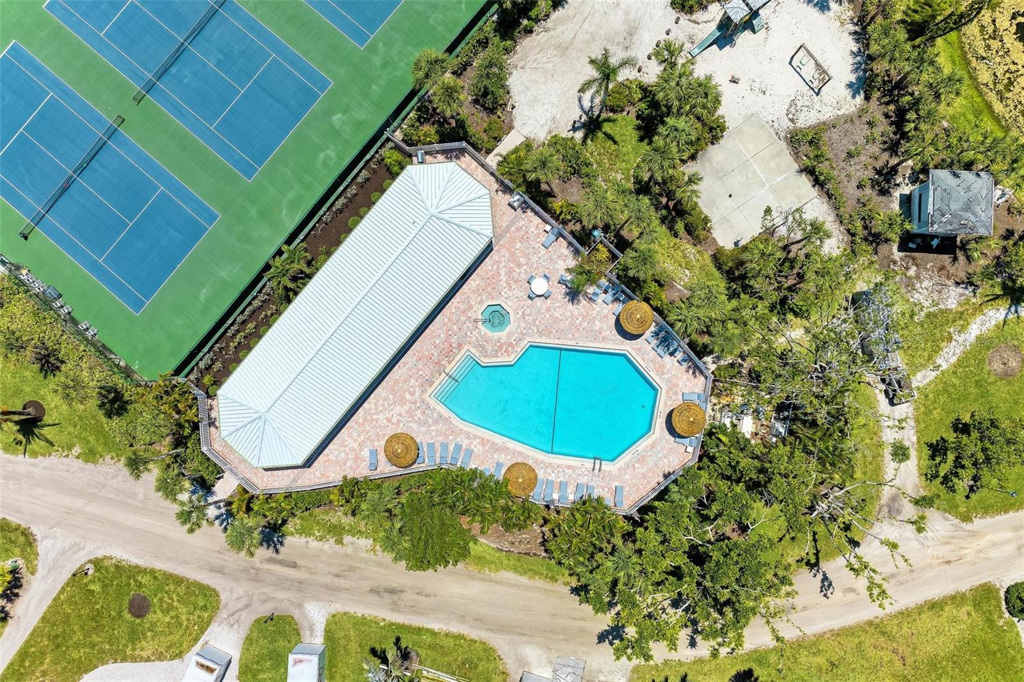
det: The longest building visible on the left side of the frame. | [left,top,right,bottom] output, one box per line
[216,161,494,469]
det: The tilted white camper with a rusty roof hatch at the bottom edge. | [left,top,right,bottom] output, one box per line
[182,643,231,682]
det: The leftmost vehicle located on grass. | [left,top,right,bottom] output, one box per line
[288,643,326,682]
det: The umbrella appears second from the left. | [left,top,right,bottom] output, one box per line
[502,461,538,497]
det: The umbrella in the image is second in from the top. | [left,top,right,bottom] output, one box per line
[671,401,707,437]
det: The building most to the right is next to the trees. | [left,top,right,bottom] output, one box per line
[903,168,994,258]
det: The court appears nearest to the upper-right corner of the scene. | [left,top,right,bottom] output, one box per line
[685,113,818,248]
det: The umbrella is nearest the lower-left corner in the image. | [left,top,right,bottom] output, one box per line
[383,432,419,468]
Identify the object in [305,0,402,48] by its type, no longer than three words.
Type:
tennis court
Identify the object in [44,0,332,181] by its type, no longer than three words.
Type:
tennis court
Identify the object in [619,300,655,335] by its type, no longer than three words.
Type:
umbrella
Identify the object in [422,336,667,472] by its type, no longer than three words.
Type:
swimming pool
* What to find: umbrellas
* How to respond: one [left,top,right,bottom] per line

[383,432,419,468]
[619,300,655,335]
[502,461,538,497]
[671,401,707,437]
